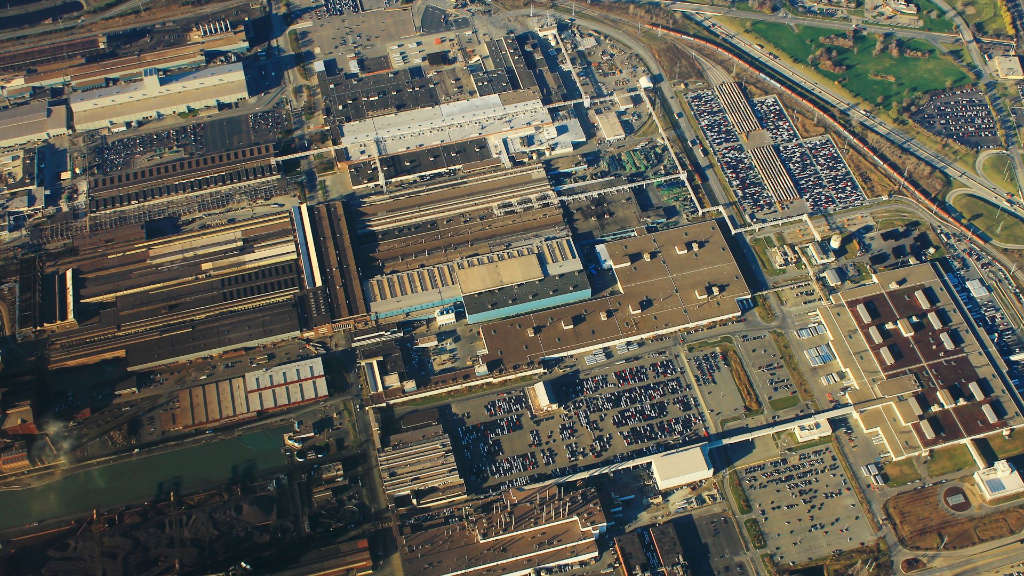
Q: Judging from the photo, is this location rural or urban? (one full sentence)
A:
The land in this view is best described as urban.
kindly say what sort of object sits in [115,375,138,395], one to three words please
shed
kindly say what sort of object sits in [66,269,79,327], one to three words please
house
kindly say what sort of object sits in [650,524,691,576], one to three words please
building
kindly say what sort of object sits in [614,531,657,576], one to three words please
building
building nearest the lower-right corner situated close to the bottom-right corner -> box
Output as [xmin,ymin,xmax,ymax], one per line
[972,460,1024,500]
